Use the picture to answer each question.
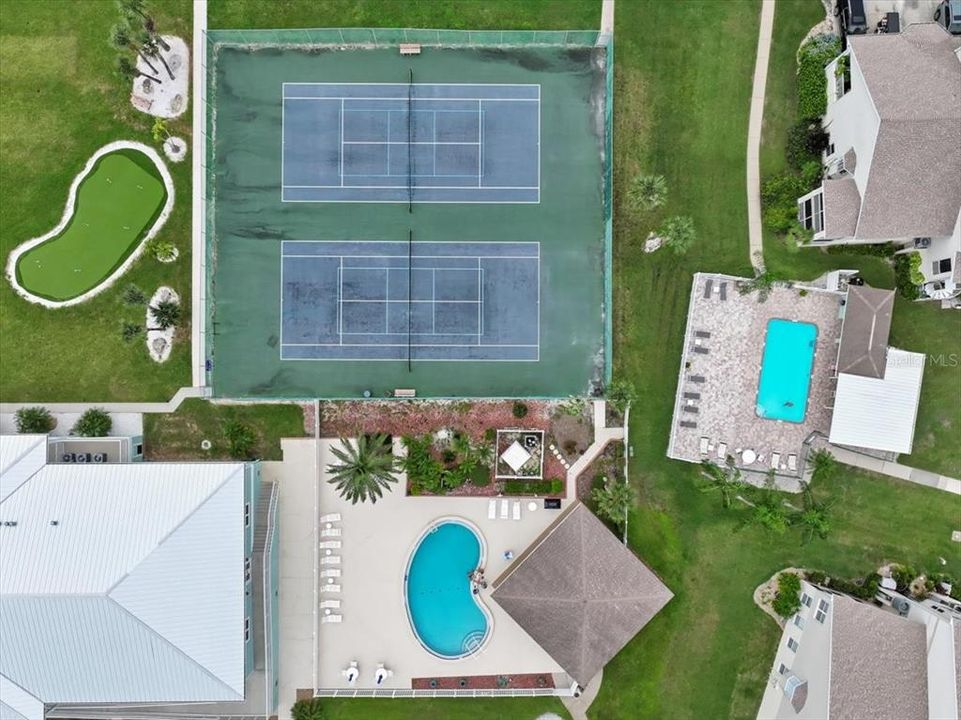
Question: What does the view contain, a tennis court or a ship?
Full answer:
The image shows a tennis court.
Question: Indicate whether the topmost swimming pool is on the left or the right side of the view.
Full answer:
The topmost swimming pool is on the right side of the image.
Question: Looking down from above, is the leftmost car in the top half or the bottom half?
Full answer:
The leftmost car sits in the top half of the picture.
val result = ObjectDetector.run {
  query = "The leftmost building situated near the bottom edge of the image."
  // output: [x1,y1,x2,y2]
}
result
[0,433,279,720]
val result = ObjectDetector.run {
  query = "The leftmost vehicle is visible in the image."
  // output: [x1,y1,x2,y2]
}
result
[834,0,865,38]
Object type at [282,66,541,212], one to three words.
tennis court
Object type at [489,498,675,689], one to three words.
building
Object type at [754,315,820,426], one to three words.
swimming pool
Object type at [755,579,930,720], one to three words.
house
